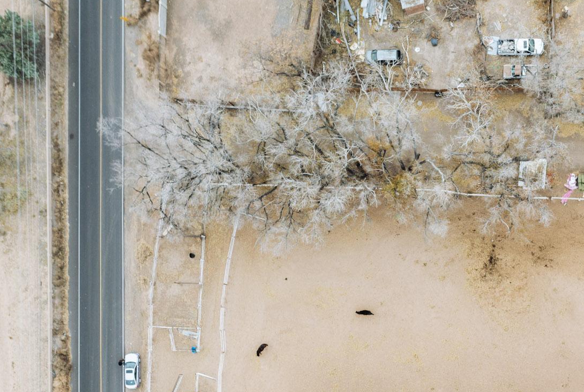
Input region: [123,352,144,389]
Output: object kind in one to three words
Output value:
car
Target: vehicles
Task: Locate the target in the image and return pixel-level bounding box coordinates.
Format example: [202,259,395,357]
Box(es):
[365,46,402,66]
[499,36,544,57]
[501,62,538,81]
[123,352,144,389]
